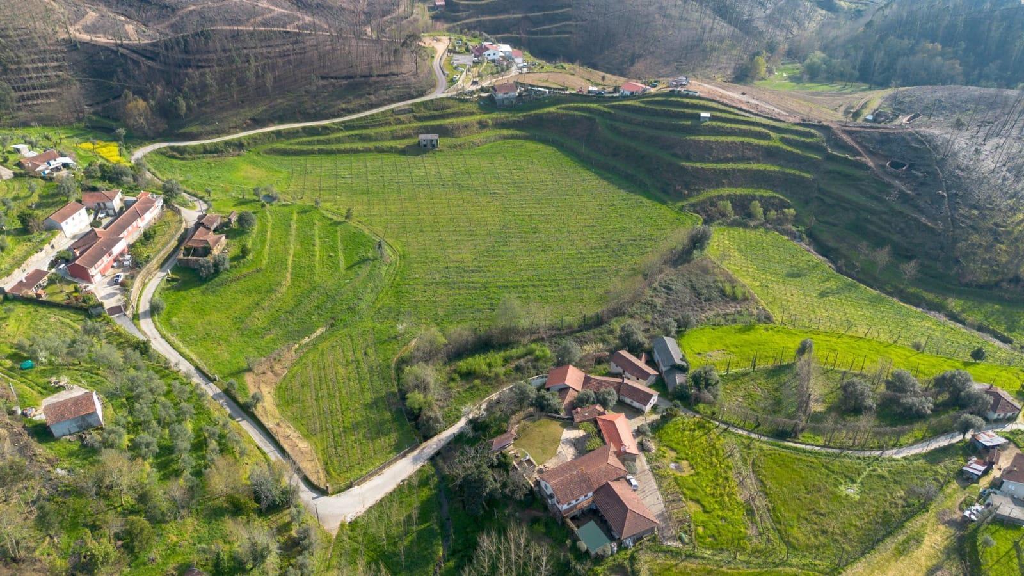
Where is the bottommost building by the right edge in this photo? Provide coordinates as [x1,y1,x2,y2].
[990,485,1024,538]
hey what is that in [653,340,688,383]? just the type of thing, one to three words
barn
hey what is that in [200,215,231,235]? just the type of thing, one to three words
barn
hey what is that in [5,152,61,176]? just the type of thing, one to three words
house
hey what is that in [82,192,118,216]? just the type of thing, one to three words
house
